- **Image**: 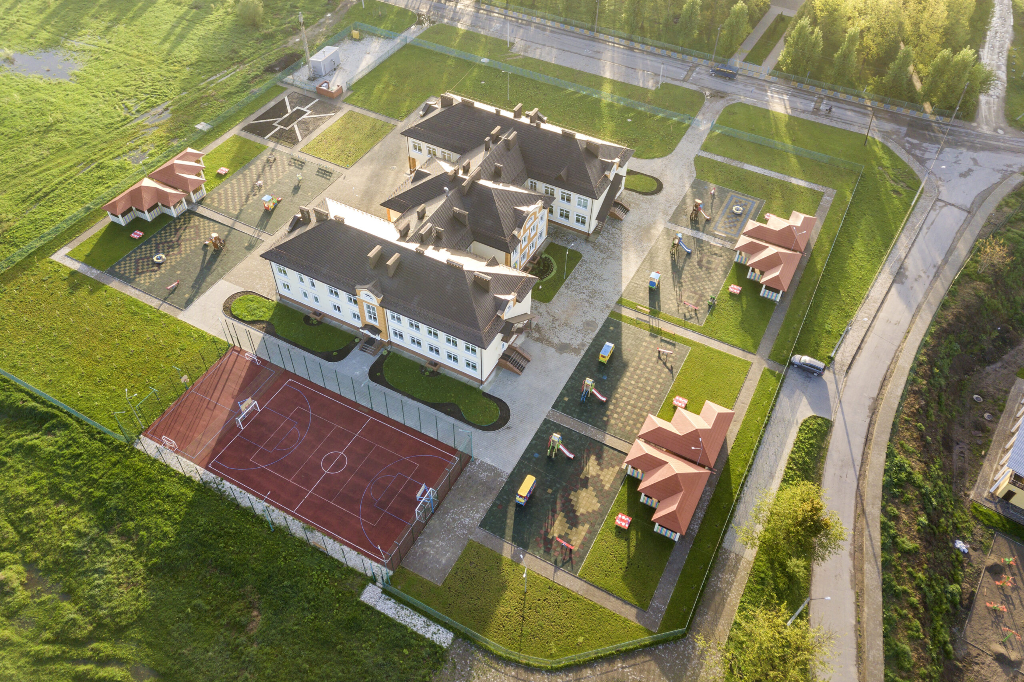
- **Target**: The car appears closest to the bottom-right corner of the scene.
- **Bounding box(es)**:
[790,352,829,376]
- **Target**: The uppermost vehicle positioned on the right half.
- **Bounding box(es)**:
[707,62,739,80]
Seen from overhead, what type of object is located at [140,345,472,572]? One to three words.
sports court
